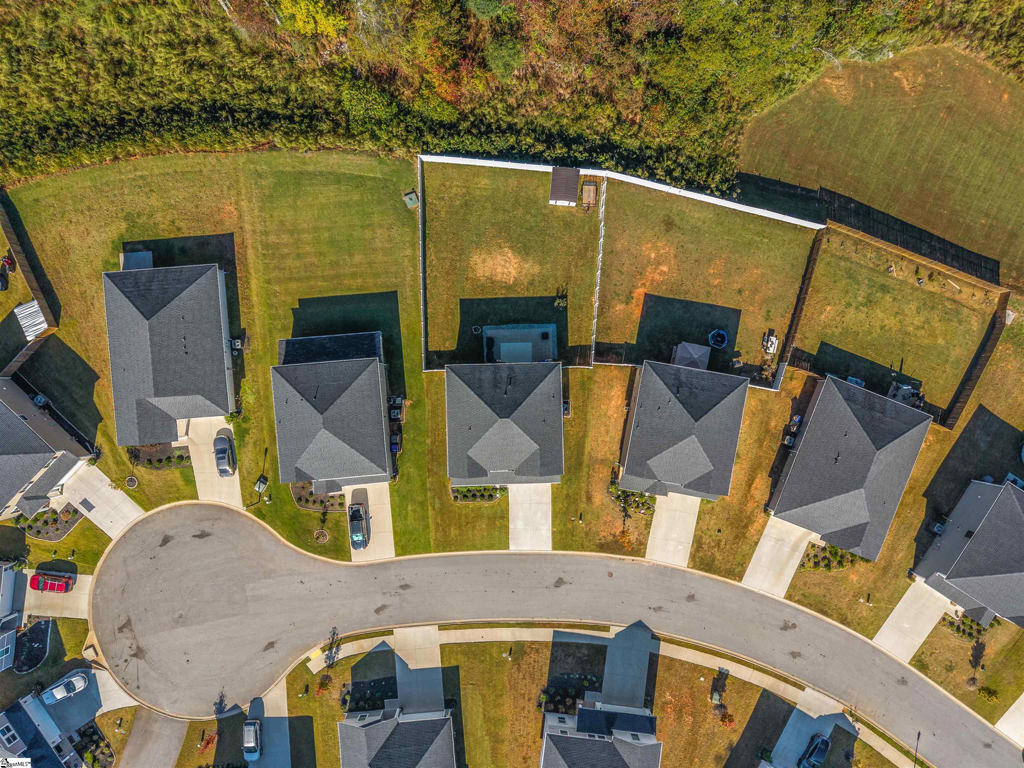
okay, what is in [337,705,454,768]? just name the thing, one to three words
house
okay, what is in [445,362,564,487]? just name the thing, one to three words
house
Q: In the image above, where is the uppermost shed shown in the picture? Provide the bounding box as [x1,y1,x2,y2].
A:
[549,167,580,206]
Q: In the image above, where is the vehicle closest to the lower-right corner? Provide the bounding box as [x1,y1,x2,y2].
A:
[796,734,829,768]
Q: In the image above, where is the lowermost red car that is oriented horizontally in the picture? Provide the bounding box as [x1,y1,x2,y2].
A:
[31,573,76,594]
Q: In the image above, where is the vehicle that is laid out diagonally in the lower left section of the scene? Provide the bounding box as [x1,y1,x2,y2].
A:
[43,671,89,706]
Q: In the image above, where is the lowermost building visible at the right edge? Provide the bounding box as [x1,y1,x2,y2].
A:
[904,480,1024,641]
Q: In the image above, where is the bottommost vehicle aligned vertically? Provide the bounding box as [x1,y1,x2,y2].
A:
[242,718,263,760]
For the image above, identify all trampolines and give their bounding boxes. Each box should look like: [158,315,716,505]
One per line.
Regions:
[709,328,731,349]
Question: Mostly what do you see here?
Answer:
grass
